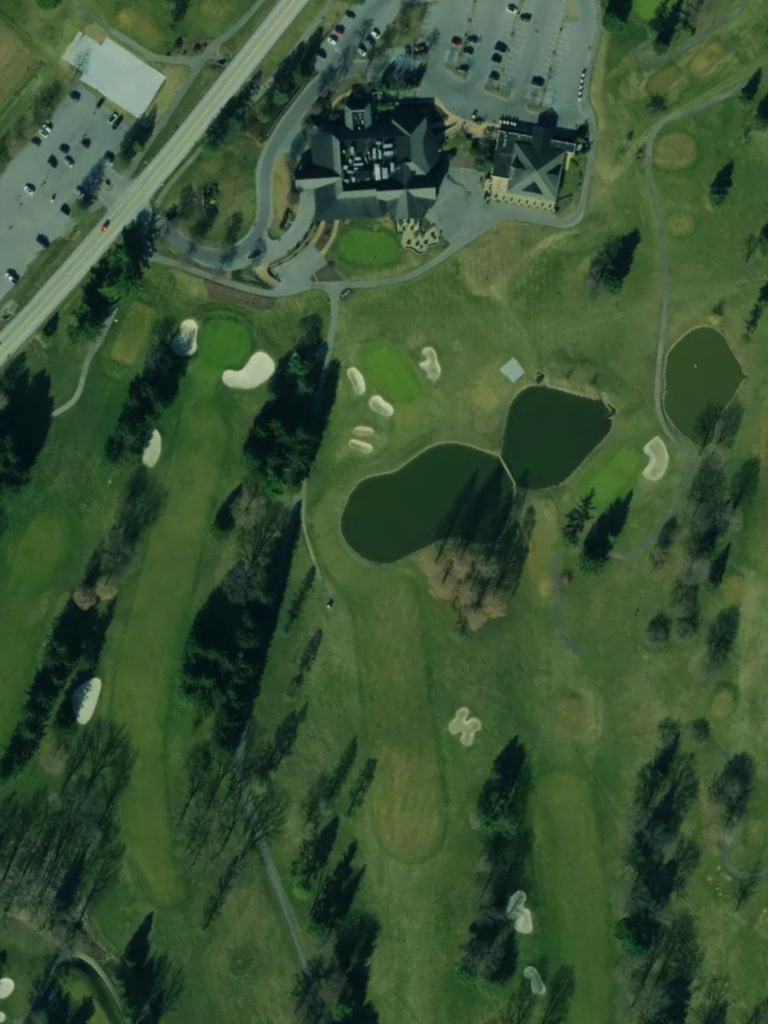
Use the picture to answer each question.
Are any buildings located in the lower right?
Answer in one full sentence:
No, no building can be made out in the lower right.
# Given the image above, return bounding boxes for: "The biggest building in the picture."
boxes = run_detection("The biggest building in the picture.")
[295,102,439,221]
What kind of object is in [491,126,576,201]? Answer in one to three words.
building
